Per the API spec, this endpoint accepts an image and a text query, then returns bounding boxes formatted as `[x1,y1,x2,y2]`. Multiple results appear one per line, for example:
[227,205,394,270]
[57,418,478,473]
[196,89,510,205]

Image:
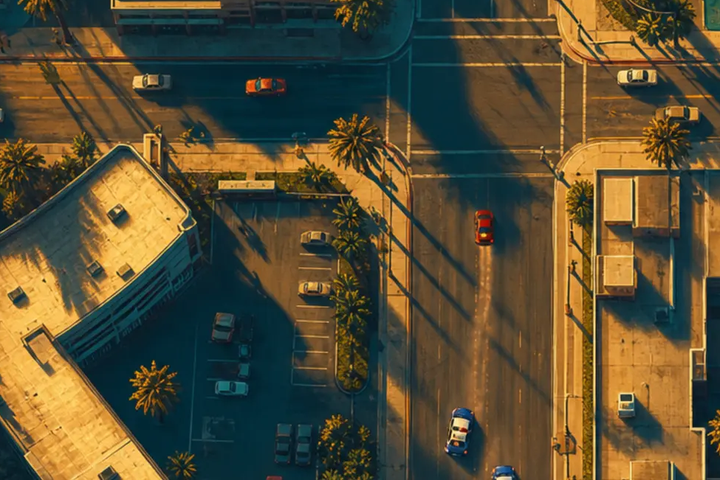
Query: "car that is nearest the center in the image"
[298,230,332,247]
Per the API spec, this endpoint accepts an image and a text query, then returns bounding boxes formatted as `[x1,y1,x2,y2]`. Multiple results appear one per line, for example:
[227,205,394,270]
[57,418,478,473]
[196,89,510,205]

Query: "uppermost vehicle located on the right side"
[617,69,657,87]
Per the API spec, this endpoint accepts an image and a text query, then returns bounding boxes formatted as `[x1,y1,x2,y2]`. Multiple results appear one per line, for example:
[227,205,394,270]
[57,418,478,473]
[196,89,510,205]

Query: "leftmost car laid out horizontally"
[132,74,173,91]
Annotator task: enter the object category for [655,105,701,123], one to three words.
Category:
car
